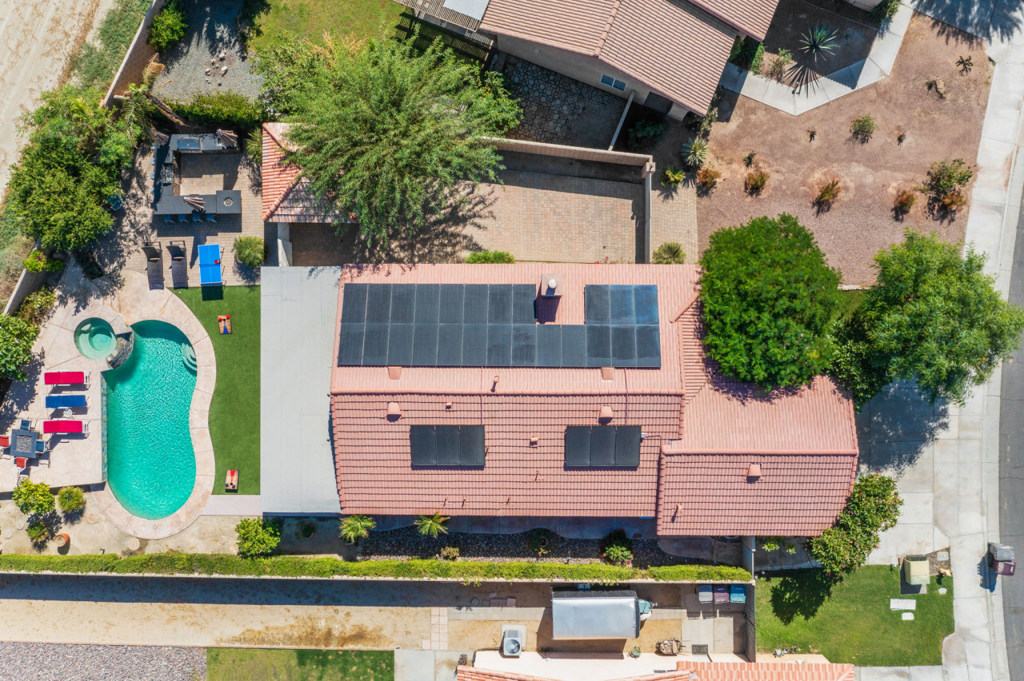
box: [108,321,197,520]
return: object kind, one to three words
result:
swimming pool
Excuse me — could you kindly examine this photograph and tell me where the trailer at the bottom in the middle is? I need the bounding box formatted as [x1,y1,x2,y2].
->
[550,581,655,640]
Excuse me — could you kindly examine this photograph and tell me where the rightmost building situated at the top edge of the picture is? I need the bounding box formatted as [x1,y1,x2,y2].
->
[478,0,777,121]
